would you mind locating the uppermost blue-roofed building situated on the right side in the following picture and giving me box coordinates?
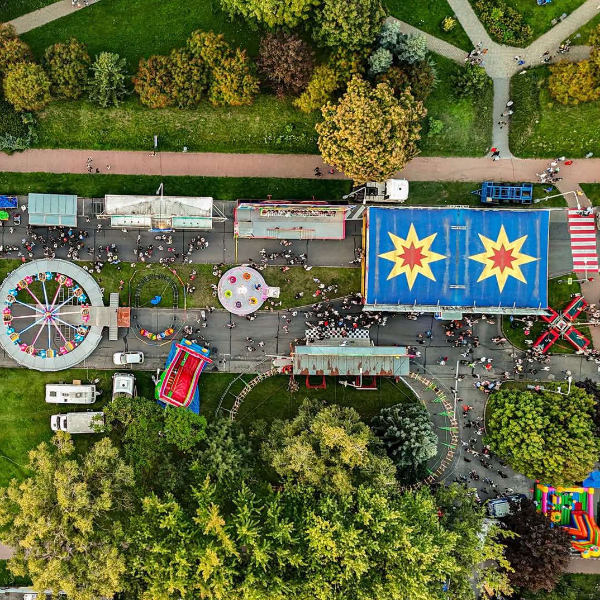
[355,206,554,315]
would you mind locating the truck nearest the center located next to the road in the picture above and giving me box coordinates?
[361,179,407,201]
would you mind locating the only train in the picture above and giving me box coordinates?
[140,328,173,341]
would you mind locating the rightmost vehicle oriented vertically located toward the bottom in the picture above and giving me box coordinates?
[115,364,133,409]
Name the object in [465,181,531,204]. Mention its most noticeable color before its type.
blue trailer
